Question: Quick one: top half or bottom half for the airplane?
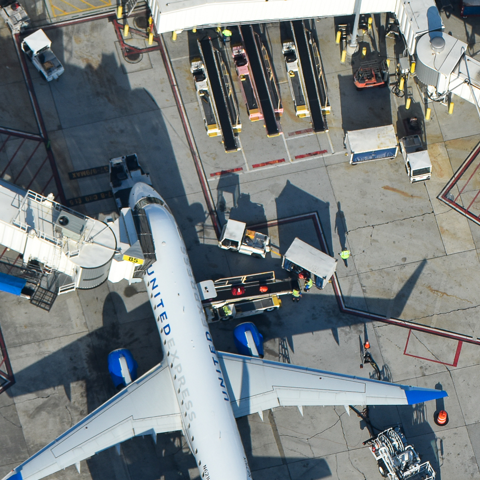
bottom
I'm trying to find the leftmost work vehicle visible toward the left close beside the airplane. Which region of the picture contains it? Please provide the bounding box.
[106,152,149,209]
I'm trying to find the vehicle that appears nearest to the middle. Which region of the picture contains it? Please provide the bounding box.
[214,221,273,265]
